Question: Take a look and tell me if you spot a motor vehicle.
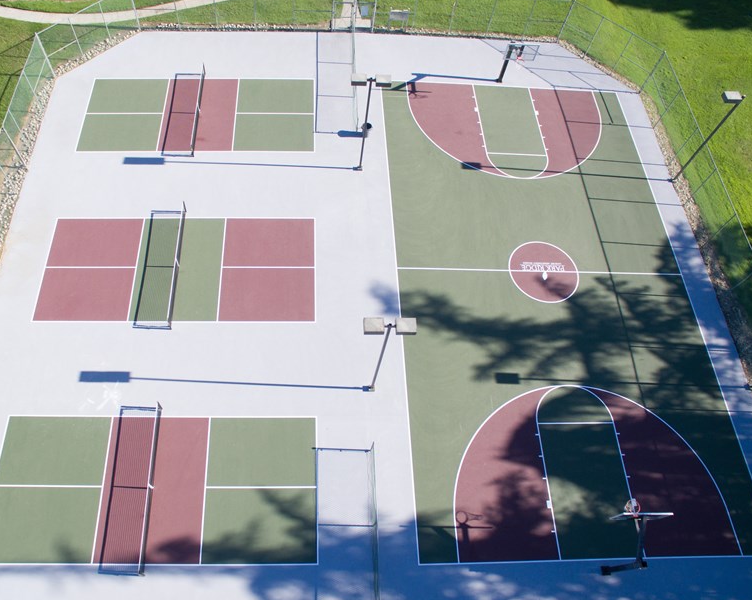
No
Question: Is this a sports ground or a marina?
sports ground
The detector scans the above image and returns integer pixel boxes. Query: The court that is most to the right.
[381,81,752,565]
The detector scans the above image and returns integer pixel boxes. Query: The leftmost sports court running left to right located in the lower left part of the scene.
[0,415,318,565]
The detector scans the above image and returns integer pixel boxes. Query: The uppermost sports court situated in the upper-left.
[76,78,315,152]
